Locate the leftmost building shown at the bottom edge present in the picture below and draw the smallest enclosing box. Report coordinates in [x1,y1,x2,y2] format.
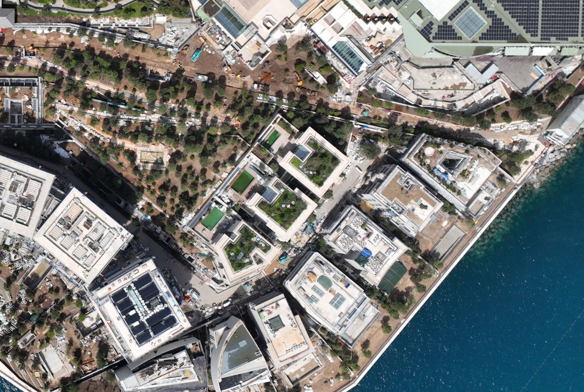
[39,345,67,379]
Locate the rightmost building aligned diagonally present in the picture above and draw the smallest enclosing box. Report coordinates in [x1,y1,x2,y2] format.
[539,74,584,144]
